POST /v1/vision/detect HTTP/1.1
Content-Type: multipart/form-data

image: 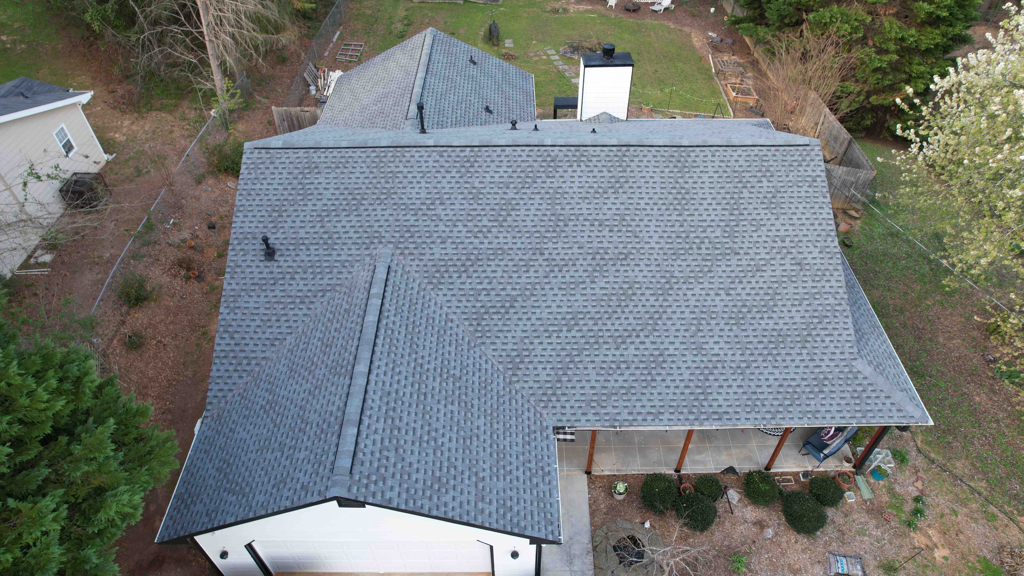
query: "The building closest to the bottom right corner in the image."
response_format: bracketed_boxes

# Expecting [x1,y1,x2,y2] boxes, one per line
[154,27,932,576]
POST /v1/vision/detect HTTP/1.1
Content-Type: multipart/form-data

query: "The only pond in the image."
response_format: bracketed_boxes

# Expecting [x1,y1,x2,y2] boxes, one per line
[593,515,667,576]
